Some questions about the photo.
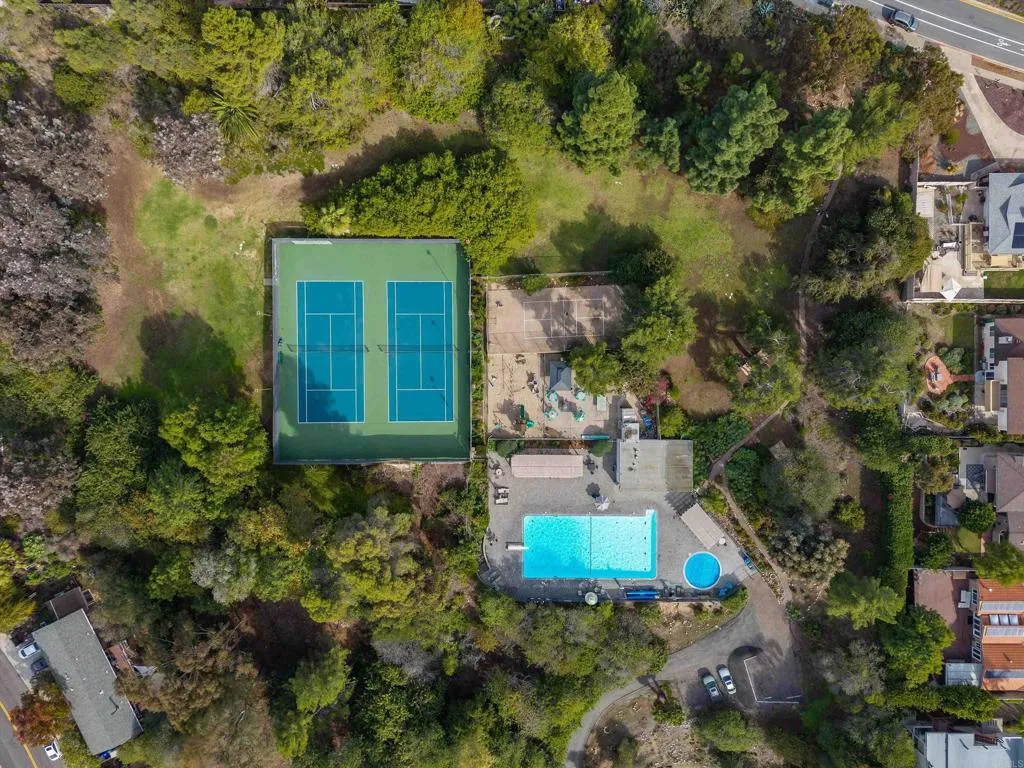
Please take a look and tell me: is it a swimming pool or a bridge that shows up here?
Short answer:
swimming pool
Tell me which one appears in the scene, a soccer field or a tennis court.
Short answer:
tennis court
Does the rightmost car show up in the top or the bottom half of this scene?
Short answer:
top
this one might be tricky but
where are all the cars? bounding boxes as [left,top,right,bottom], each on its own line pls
[24,657,49,676]
[718,667,738,696]
[13,641,41,661]
[891,7,920,29]
[702,673,725,702]
[39,738,61,765]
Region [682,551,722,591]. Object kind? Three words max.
swimming pool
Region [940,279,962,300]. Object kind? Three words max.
umbrella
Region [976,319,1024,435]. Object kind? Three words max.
house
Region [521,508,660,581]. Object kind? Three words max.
swimming pool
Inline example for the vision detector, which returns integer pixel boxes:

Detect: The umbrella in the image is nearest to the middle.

[595,497,609,510]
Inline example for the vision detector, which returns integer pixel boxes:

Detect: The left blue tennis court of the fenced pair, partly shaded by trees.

[278,243,376,461]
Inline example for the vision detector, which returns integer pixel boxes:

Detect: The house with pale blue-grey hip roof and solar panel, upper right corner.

[978,174,1024,255]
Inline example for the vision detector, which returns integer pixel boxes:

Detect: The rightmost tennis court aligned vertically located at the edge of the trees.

[375,242,469,461]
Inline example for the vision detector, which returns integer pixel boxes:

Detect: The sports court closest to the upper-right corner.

[487,284,625,352]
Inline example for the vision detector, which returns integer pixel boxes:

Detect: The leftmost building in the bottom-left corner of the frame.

[32,583,145,754]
